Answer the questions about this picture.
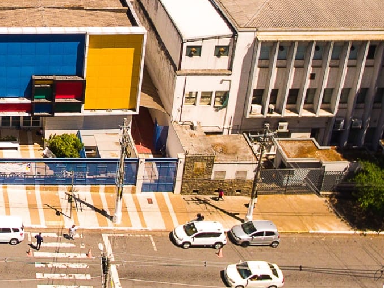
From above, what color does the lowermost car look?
white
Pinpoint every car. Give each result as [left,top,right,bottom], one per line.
[172,217,230,246]
[223,259,288,288]
[0,213,25,242]
[229,219,284,245]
